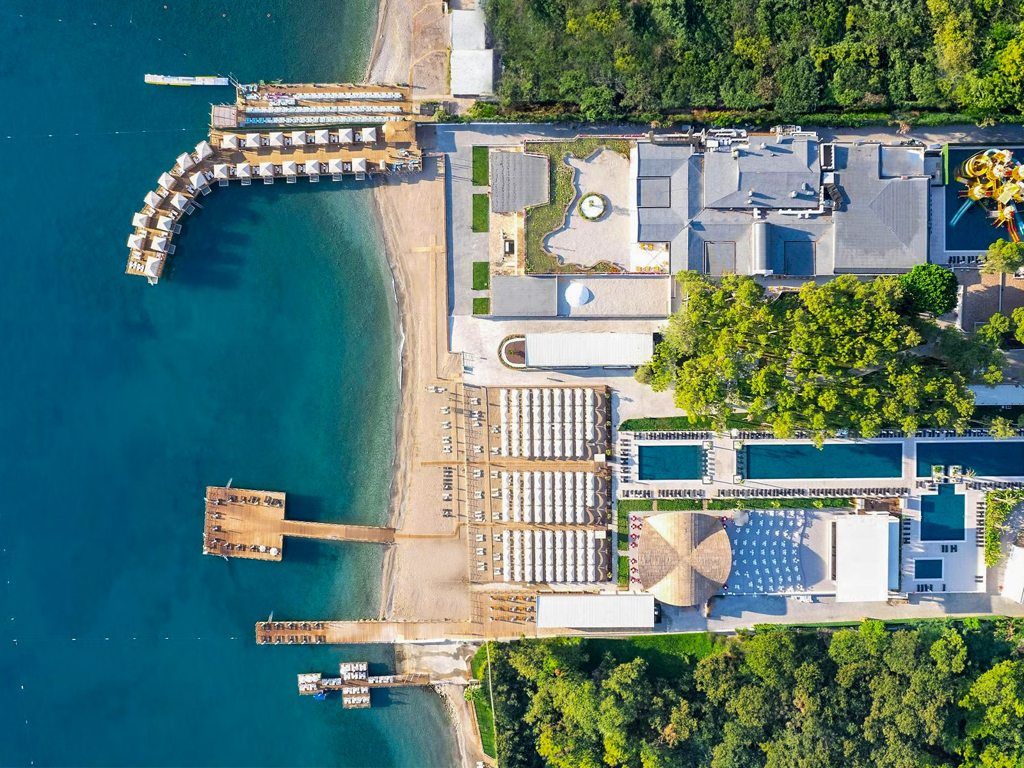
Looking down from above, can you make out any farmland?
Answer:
No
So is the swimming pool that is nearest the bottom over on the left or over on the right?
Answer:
right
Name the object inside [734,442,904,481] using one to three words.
swimming pool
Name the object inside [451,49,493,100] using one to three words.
building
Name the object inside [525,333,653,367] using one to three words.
building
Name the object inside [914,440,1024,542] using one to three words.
swimming pool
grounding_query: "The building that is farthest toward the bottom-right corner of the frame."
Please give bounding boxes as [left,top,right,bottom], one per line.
[988,541,1024,605]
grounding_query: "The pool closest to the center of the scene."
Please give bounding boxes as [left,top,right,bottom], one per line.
[637,444,710,481]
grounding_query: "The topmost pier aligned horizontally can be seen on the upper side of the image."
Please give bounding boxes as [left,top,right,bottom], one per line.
[145,74,229,87]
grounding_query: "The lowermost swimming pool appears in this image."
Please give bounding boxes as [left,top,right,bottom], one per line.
[913,558,944,580]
